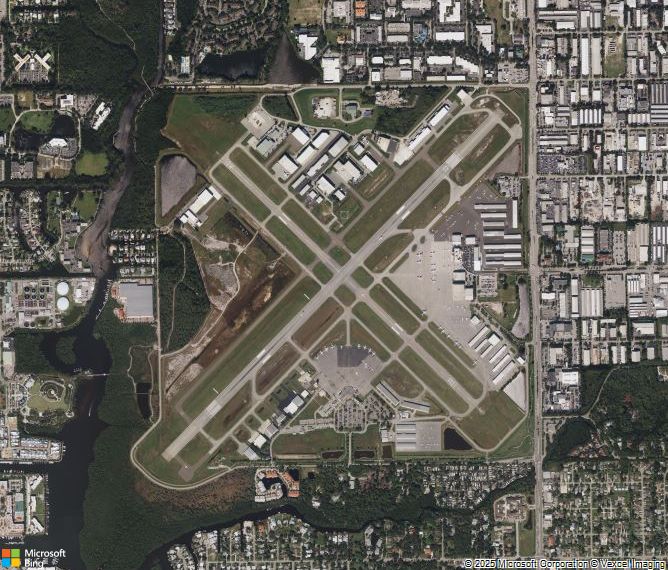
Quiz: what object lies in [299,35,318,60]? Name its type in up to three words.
building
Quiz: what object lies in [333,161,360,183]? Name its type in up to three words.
hangar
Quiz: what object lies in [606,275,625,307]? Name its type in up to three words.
building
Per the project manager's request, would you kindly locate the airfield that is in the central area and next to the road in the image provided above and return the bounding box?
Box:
[130,83,531,489]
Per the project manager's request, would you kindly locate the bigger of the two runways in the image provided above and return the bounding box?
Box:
[162,112,502,461]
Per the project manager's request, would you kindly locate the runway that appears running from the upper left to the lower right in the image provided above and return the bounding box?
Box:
[219,155,478,407]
